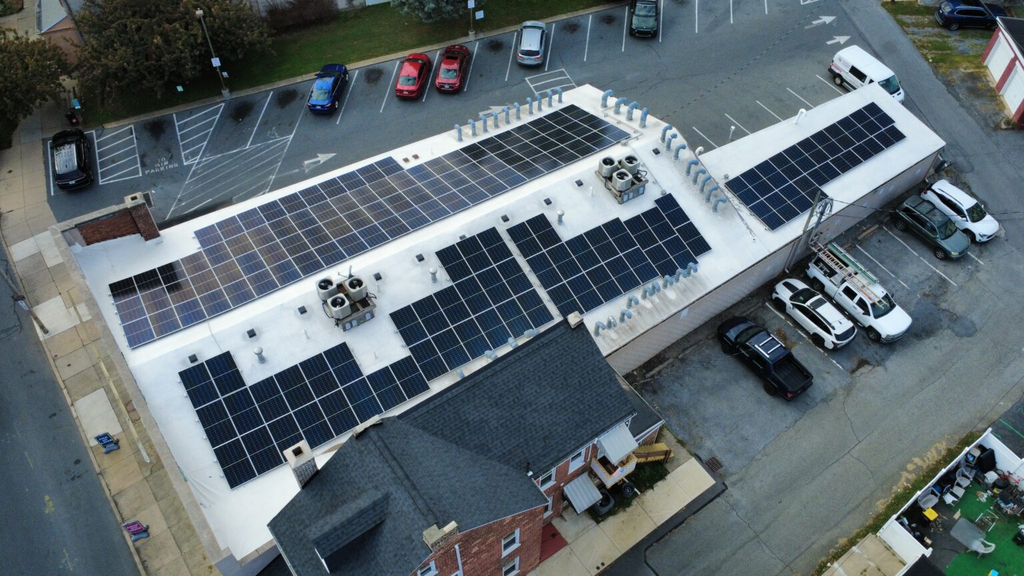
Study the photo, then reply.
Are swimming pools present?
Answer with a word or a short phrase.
No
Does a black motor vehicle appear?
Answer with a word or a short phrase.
Yes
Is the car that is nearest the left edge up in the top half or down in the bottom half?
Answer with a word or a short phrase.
top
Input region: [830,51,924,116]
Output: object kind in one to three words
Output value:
van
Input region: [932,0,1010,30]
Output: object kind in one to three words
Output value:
car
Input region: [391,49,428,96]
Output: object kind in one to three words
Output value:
car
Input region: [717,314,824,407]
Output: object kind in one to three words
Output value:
truck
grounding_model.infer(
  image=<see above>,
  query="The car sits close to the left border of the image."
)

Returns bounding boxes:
[42,129,90,189]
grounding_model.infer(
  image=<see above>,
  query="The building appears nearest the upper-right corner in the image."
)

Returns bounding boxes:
[975,22,1024,121]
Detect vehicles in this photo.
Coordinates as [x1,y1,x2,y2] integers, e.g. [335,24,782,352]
[773,278,864,354]
[804,241,922,347]
[517,18,549,63]
[923,177,1014,245]
[434,43,470,91]
[630,0,662,36]
[391,49,428,96]
[932,0,1010,30]
[889,195,980,265]
[42,129,90,189]
[303,64,350,115]
[717,314,824,407]
[830,51,924,116]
